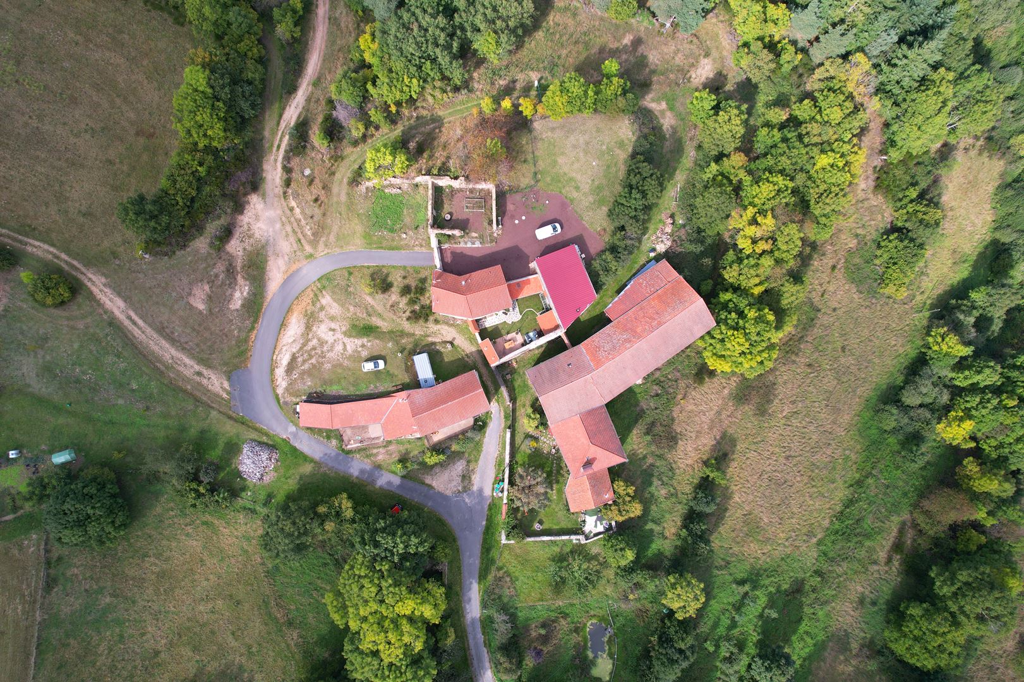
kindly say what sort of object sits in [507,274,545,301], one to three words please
shed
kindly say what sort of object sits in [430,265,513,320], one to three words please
house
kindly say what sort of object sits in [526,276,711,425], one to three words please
barn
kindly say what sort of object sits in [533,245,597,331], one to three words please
barn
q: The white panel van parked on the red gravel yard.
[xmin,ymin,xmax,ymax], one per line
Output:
[534,224,561,241]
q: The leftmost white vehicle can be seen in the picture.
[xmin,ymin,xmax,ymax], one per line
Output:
[362,359,385,371]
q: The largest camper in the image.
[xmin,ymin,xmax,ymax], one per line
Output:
[413,349,435,386]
